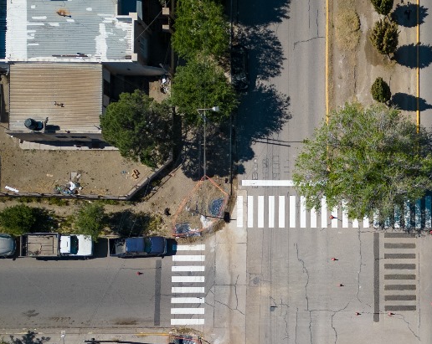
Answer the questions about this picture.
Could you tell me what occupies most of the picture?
paved ground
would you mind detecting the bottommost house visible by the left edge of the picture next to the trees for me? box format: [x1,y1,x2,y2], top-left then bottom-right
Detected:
[7,63,120,152]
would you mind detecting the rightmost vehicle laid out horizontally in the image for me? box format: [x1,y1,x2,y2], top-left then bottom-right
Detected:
[108,234,169,257]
